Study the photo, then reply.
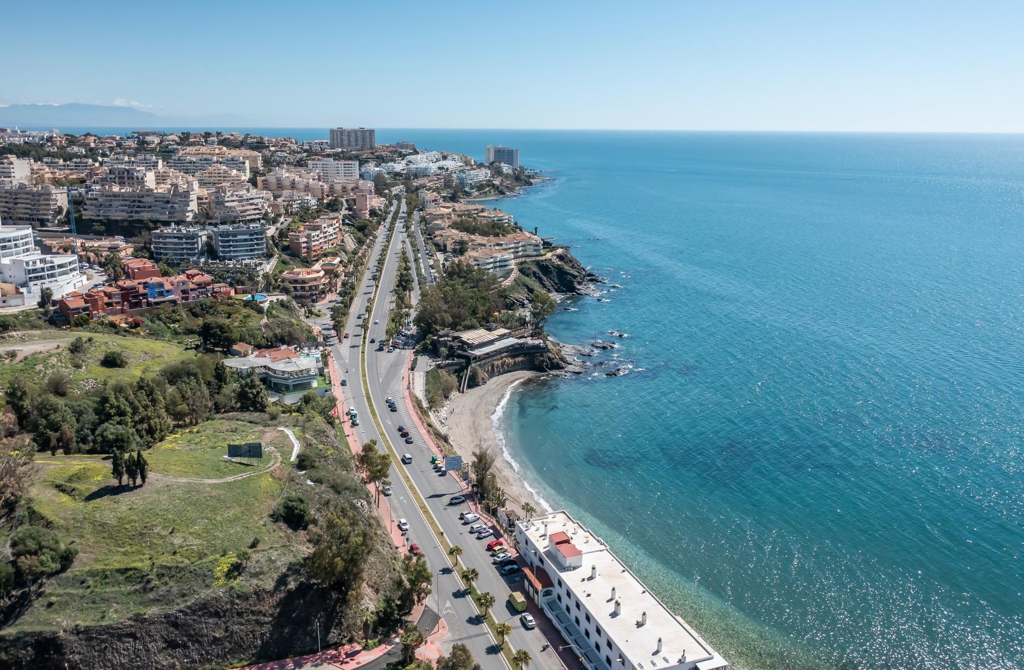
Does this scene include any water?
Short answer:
Yes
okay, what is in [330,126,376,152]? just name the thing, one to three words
building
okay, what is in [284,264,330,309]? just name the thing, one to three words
building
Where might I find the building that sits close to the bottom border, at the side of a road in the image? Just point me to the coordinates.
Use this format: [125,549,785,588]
[514,510,732,670]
